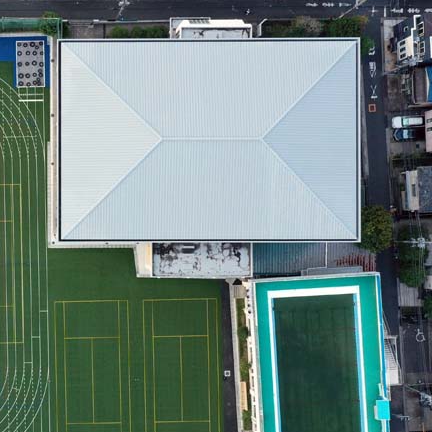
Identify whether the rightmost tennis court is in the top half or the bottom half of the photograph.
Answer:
bottom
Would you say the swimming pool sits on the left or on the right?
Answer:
right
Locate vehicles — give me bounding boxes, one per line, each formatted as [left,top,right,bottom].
[389,128,419,142]
[388,116,424,130]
